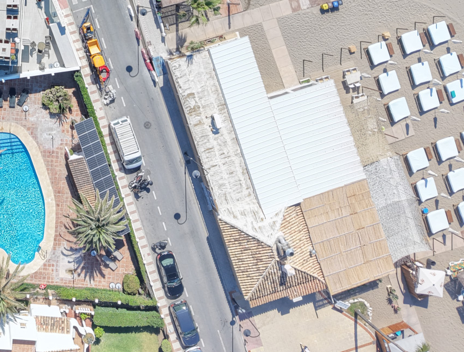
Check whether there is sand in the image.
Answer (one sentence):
Yes, some sand is visible.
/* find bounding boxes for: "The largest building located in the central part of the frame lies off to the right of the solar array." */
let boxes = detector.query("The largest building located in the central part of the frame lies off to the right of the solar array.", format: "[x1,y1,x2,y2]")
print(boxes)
[157,37,404,310]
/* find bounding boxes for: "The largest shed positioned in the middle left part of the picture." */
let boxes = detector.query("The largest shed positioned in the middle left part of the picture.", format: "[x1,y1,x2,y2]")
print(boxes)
[62,142,99,216]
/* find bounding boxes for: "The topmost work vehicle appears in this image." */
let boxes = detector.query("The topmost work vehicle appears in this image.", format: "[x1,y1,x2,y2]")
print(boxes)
[82,21,98,47]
